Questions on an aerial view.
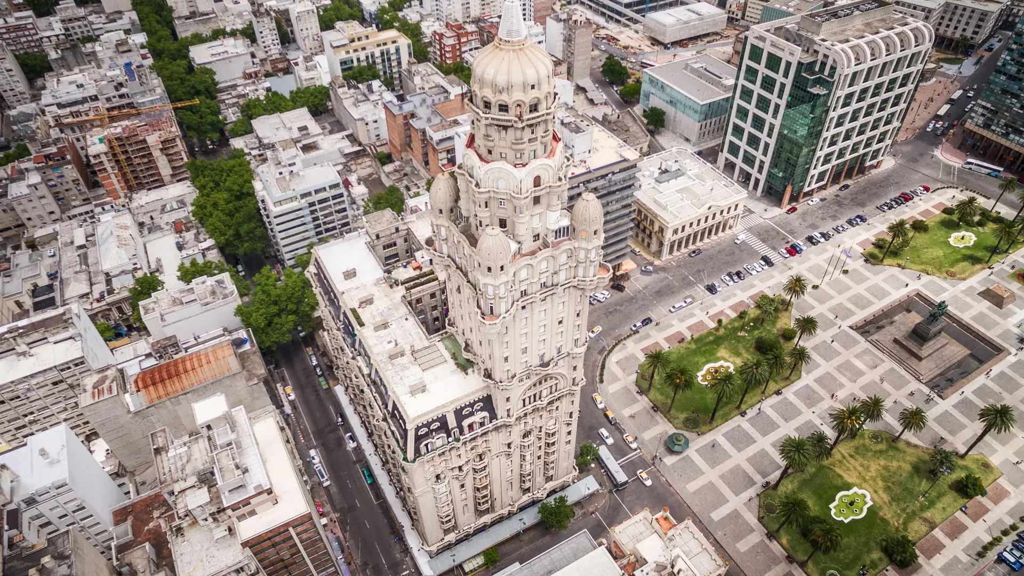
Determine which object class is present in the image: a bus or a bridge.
bus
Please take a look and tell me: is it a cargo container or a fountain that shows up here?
fountain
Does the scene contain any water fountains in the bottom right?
Yes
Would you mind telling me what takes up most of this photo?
buildings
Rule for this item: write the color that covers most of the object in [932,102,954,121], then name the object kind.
white vehicle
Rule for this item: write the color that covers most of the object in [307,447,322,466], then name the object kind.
white car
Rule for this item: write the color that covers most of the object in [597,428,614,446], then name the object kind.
white car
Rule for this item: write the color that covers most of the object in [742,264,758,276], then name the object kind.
white vehicle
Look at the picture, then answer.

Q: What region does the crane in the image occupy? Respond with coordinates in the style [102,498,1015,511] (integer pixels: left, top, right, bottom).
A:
[67,97,199,209]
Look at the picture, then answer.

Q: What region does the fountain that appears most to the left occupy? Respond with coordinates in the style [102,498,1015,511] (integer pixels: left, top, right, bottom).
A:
[698,358,735,384]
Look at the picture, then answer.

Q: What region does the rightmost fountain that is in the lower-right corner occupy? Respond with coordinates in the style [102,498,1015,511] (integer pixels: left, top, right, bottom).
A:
[830,486,874,522]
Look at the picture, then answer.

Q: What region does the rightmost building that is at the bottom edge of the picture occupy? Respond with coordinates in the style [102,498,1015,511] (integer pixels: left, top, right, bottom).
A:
[607,485,744,576]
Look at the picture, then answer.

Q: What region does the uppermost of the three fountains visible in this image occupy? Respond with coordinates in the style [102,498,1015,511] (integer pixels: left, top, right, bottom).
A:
[948,230,977,247]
